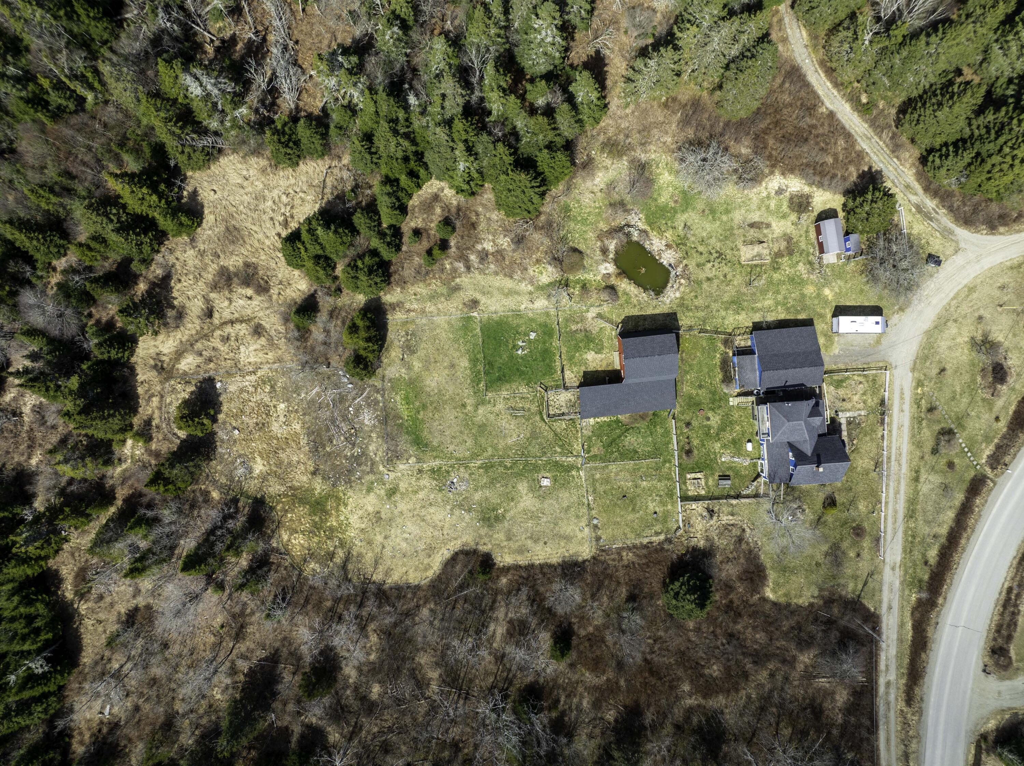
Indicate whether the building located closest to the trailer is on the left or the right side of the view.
right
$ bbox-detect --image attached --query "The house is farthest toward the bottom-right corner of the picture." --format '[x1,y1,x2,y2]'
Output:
[757,400,851,486]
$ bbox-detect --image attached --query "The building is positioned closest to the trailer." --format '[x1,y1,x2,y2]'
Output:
[751,327,824,391]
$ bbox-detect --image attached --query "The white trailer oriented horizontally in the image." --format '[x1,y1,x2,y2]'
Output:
[830,316,883,334]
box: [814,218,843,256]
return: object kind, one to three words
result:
shed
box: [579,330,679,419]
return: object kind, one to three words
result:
barn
